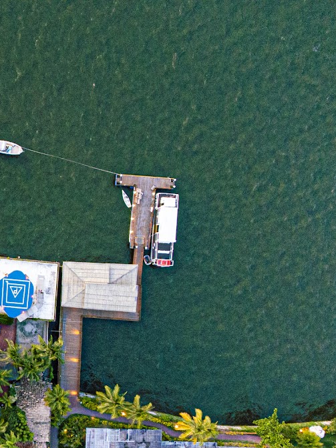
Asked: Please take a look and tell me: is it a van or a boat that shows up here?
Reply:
boat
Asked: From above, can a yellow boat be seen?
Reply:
No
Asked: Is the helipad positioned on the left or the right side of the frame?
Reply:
left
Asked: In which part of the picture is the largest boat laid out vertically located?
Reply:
center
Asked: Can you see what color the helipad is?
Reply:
white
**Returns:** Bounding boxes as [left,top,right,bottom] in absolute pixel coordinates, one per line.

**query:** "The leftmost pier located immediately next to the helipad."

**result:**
[59,259,143,397]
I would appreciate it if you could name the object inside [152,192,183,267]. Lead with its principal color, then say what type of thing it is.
white boat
